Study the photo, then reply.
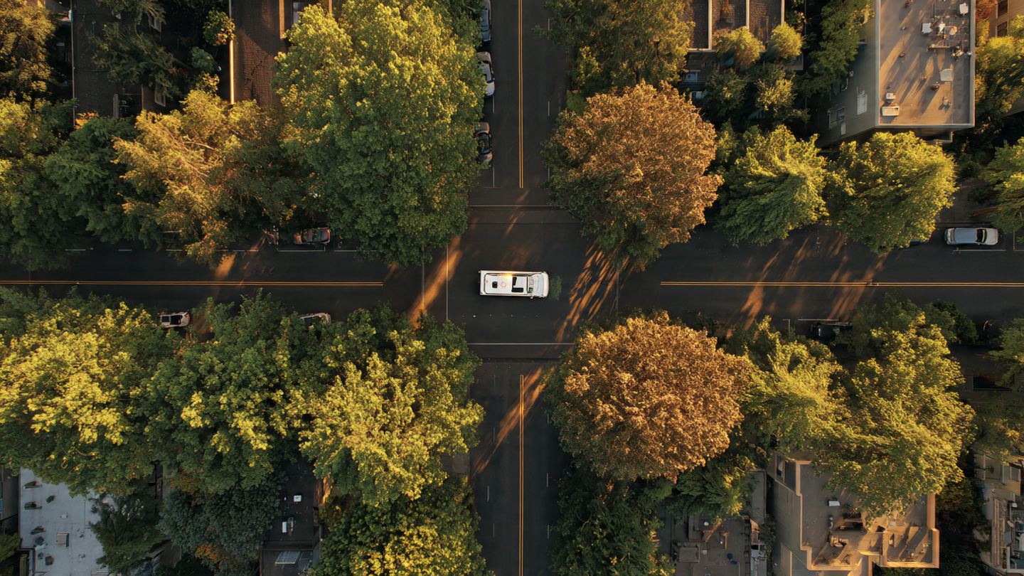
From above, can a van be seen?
Yes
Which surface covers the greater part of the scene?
trees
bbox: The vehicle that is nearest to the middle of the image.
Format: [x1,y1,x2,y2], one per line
[479,268,548,299]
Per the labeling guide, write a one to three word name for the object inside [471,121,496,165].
car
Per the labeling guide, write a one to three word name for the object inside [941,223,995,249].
car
